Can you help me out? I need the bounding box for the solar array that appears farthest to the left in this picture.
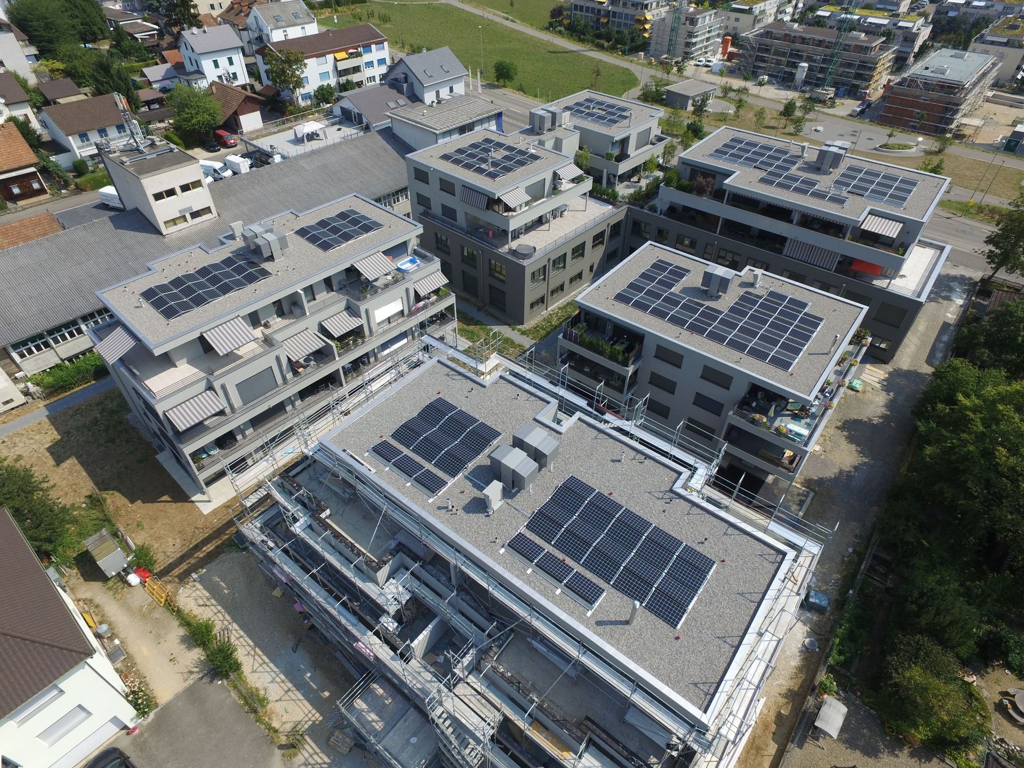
[138,247,283,321]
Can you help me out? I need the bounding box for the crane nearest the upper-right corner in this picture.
[813,0,868,102]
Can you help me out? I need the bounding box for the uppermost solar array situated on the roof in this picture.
[559,96,636,127]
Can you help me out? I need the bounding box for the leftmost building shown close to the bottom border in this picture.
[0,495,138,768]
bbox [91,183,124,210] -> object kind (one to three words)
vehicle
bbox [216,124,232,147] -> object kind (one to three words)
vehicle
